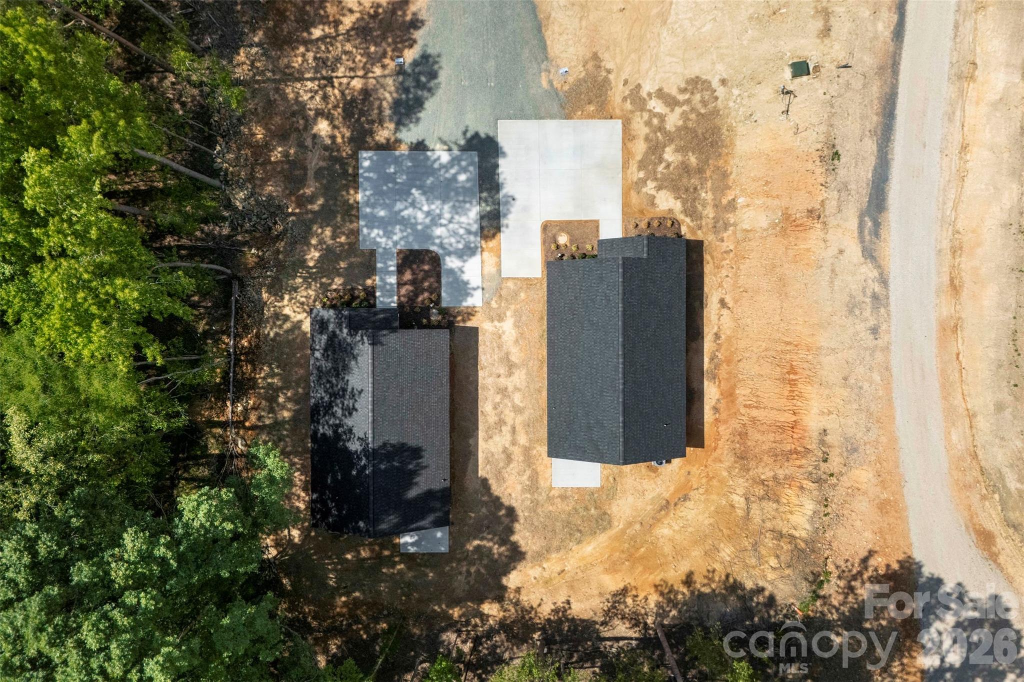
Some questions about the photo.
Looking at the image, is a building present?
Yes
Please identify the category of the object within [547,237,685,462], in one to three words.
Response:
house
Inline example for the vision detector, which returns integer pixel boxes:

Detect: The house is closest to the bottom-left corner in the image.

[311,307,450,535]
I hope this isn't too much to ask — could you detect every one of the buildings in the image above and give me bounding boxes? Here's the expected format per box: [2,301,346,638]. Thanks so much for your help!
[311,307,450,535]
[547,237,685,462]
